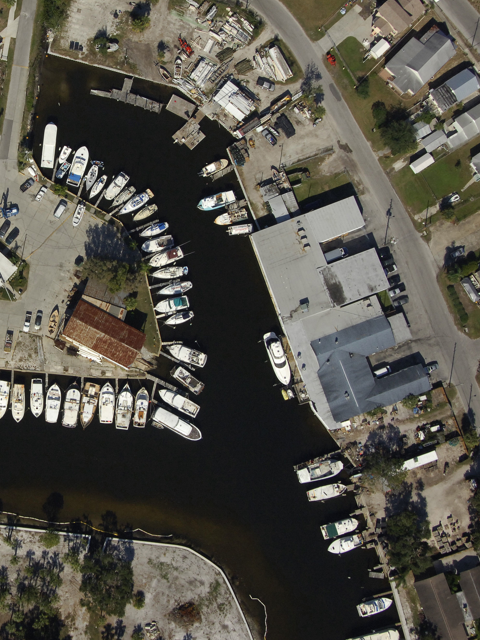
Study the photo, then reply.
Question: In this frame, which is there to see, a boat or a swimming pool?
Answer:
boat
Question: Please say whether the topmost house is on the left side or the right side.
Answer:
right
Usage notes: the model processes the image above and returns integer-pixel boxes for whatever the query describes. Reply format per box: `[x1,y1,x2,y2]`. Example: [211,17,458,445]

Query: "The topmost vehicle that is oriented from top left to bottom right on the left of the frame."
[175,32,197,54]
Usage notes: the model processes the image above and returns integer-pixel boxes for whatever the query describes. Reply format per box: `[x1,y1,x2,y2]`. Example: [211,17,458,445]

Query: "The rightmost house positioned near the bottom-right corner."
[454,567,480,622]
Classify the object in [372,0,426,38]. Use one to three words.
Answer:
house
